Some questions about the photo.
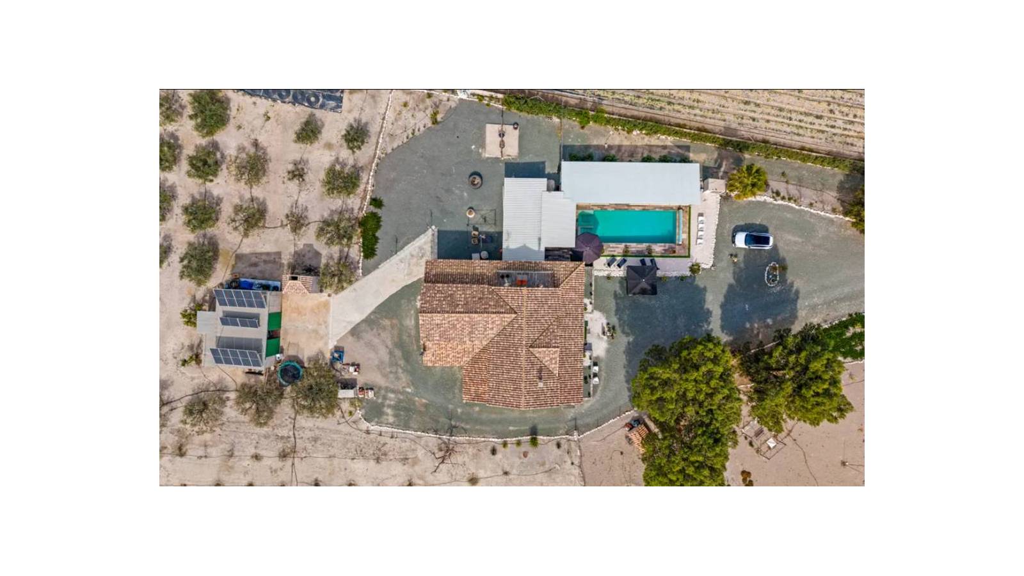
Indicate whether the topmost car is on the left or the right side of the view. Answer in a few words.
right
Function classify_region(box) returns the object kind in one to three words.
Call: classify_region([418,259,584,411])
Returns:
house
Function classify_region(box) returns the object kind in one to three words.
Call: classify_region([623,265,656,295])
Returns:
gazebo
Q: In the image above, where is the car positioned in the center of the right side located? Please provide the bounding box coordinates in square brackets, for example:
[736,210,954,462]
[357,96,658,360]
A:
[735,229,778,249]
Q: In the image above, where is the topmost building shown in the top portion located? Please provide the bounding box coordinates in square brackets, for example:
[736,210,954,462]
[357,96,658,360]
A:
[560,161,704,206]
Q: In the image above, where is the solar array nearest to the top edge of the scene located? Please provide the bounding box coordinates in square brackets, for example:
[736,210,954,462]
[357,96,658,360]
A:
[214,289,266,308]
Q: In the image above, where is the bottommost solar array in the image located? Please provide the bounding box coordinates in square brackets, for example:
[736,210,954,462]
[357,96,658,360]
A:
[210,348,263,367]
